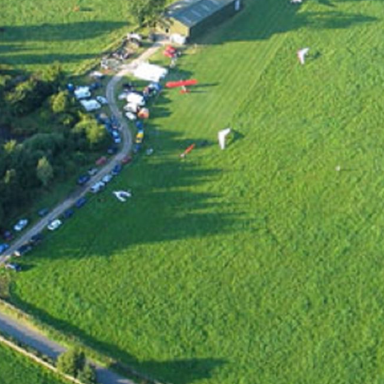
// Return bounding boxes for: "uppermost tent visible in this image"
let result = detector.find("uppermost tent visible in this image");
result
[133,60,172,83]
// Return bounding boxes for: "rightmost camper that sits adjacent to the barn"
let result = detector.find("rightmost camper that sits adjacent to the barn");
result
[169,34,186,47]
